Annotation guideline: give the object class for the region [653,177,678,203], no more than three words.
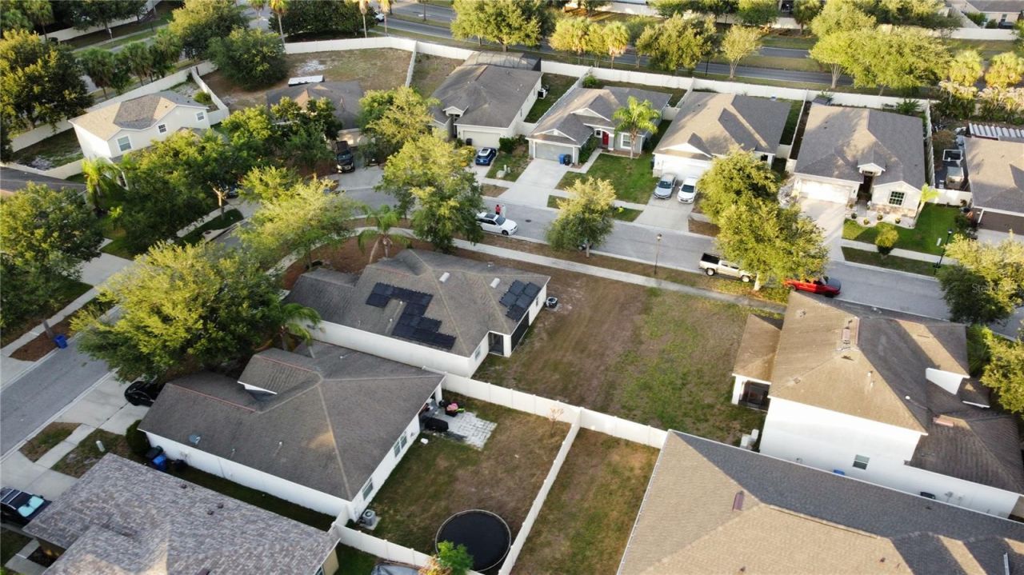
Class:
car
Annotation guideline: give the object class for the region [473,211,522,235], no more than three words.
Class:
car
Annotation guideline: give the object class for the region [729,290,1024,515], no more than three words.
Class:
house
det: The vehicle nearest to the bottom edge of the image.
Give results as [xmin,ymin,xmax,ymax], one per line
[0,481,50,536]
